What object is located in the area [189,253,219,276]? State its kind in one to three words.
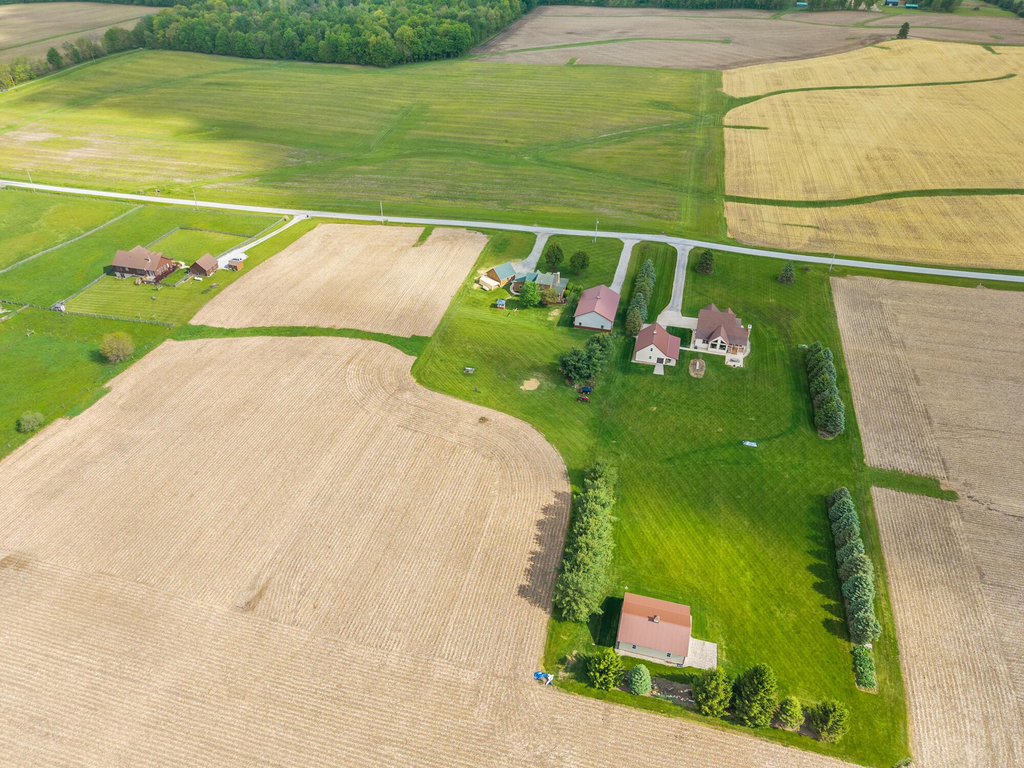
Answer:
building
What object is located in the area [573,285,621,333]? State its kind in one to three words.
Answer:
barn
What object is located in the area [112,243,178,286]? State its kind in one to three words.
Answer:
house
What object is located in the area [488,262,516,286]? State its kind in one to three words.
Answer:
building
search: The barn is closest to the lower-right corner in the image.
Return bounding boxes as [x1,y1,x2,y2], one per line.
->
[618,592,691,667]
